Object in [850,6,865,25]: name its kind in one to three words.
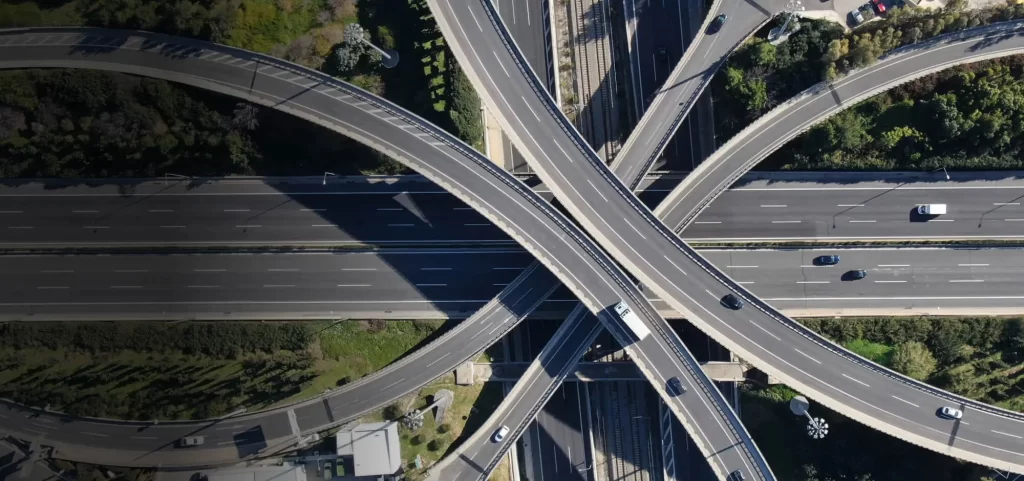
car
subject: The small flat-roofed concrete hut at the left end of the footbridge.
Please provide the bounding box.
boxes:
[456,360,473,384]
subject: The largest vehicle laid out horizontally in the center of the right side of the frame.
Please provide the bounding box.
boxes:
[917,203,945,215]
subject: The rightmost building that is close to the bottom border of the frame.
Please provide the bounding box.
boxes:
[338,418,406,476]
